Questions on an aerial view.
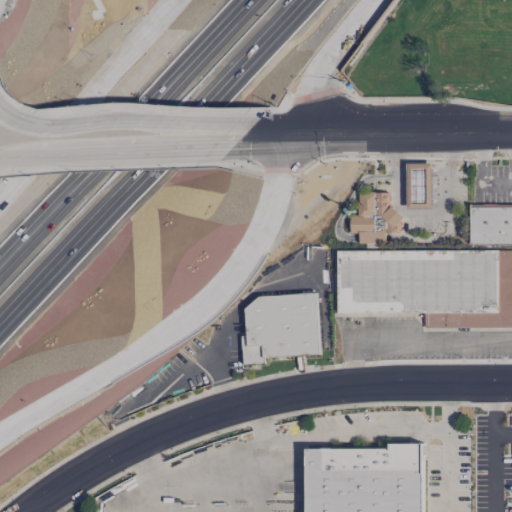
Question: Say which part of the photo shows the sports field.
top right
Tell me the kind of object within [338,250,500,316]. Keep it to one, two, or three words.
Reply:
building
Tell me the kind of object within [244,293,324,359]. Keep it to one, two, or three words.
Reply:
building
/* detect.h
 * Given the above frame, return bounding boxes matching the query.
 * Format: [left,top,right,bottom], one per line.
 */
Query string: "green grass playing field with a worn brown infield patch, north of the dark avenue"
[350,0,512,106]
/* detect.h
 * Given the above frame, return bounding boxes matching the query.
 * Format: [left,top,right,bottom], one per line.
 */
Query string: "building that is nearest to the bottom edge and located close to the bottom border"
[304,442,428,512]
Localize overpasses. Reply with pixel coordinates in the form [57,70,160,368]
[0,82,270,176]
